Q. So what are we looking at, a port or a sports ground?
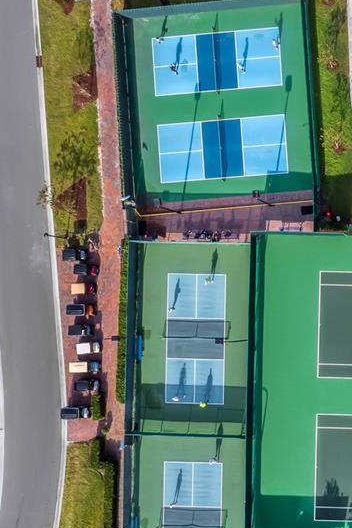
sports ground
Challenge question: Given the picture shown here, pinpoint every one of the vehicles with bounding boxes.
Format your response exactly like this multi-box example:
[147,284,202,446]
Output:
[61,405,88,418]
[69,360,97,373]
[76,342,102,355]
[70,283,97,295]
[66,304,94,316]
[74,377,101,391]
[73,263,100,276]
[68,325,95,337]
[62,248,88,261]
